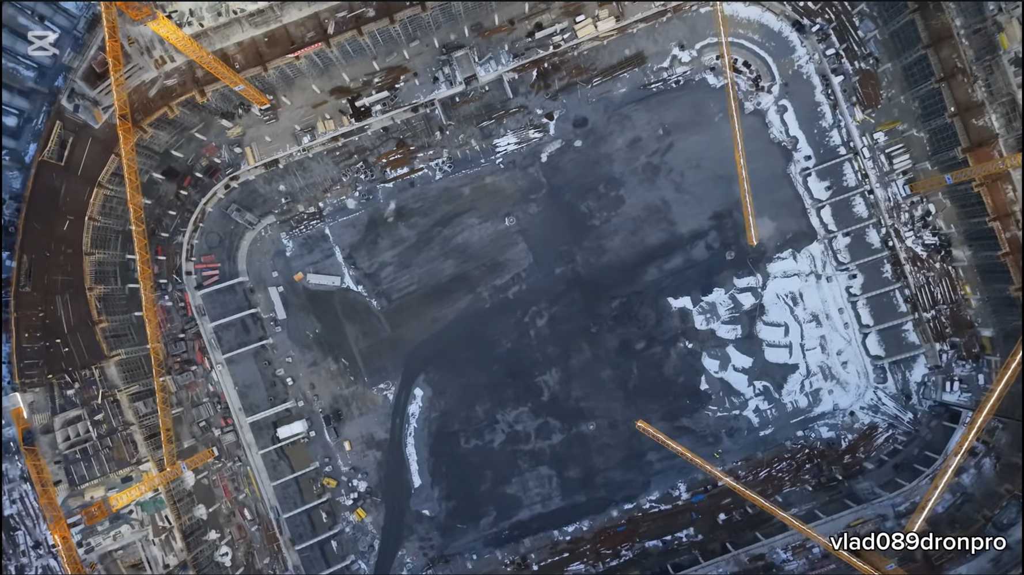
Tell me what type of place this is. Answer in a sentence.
This looks like a sports ground.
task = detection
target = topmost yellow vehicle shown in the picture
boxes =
[321,476,339,489]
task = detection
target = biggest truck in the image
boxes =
[273,419,311,442]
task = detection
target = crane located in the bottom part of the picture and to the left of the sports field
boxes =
[13,395,226,575]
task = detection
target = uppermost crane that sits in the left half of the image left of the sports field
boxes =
[106,0,278,474]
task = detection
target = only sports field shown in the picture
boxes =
[293,83,815,556]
